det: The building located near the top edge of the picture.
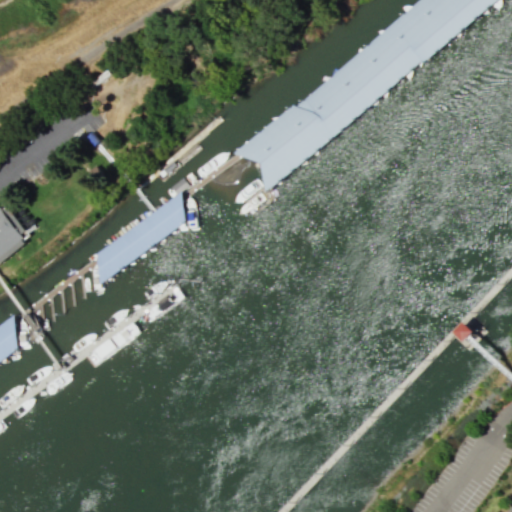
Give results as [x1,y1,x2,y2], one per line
[235,0,498,190]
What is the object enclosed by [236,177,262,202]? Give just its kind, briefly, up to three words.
boat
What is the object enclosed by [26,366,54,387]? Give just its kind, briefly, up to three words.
boat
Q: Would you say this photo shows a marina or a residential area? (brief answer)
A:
marina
